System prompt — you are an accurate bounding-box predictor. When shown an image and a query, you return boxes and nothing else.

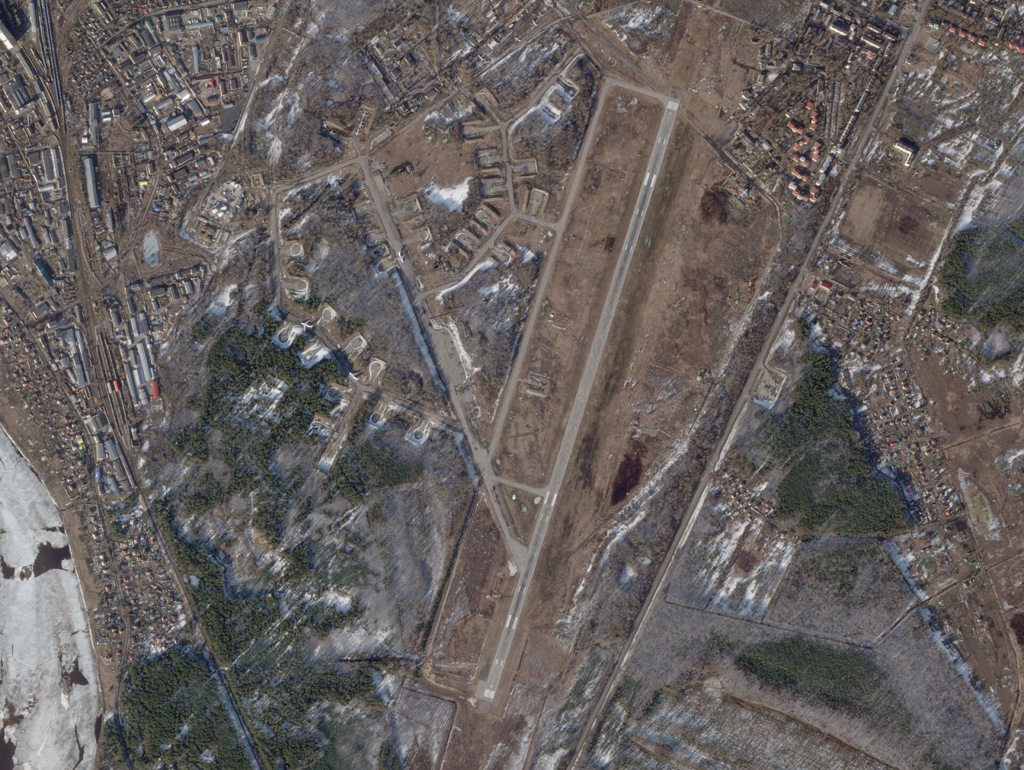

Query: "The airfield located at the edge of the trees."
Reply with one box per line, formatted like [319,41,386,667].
[272,45,681,713]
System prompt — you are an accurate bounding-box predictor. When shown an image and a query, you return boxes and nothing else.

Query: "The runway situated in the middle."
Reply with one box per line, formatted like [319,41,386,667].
[482,94,681,705]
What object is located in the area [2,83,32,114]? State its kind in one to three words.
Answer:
building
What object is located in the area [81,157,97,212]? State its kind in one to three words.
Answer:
building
